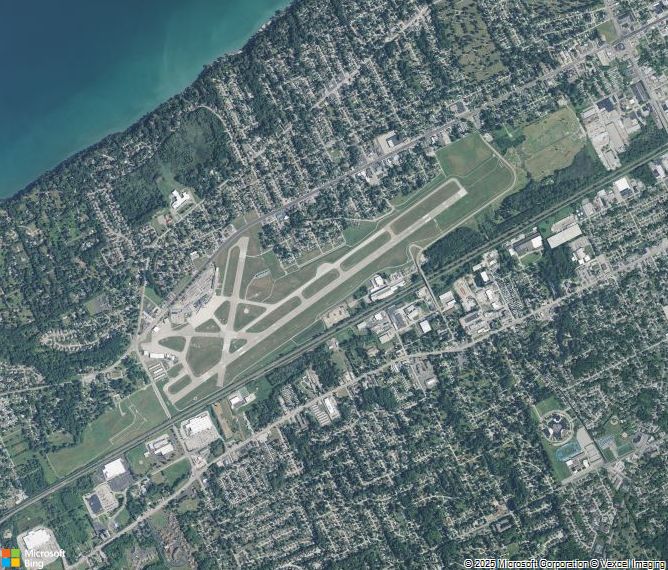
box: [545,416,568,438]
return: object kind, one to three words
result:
building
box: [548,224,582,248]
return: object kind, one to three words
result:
building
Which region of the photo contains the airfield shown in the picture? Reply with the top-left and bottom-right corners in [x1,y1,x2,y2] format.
[139,130,514,416]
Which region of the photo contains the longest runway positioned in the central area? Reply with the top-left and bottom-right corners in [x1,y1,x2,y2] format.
[169,191,463,404]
